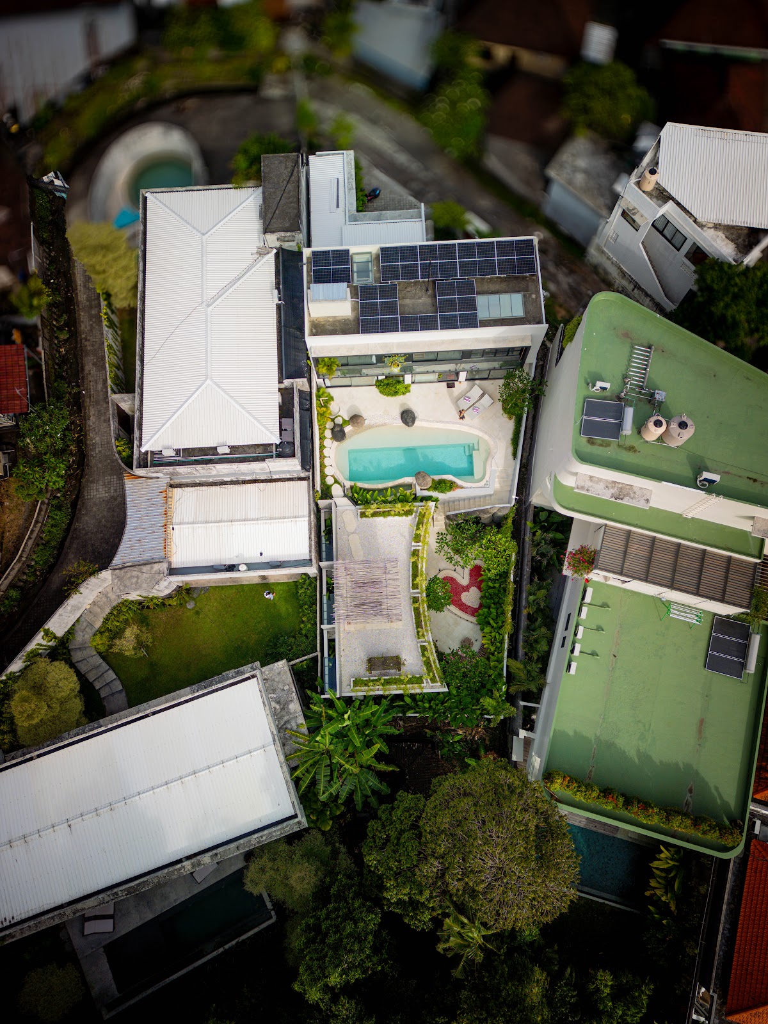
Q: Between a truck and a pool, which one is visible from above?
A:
pool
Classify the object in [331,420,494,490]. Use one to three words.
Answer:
swimming pool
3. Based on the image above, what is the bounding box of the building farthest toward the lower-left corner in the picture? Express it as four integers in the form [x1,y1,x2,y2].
[0,660,311,943]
